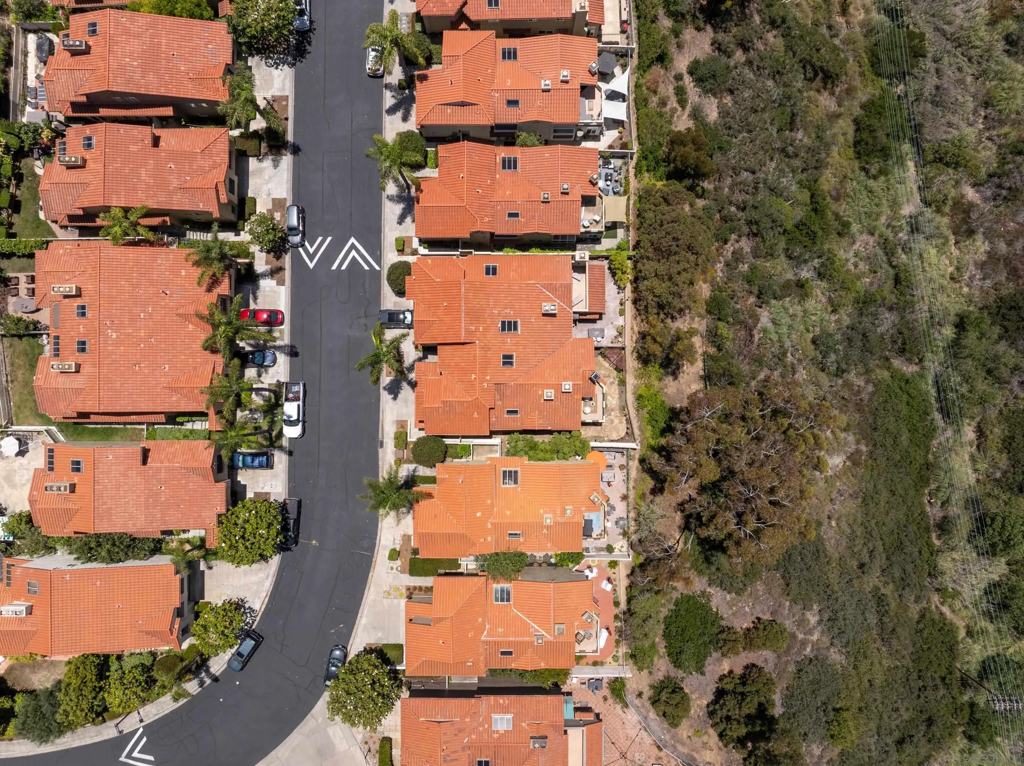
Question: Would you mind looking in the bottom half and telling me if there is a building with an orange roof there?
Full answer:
Yes, a building with an orange roof is visible in the bottom half.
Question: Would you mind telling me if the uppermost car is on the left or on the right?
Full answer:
The uppermost car is on the left side of the image.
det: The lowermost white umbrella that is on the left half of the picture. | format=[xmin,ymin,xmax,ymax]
[0,436,28,457]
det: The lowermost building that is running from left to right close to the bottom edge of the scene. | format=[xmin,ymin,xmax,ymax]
[400,674,603,766]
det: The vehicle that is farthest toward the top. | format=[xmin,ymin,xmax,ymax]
[293,0,314,34]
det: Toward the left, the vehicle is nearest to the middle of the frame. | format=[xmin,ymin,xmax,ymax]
[375,308,414,330]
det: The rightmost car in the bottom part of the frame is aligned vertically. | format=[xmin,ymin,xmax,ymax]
[323,639,348,686]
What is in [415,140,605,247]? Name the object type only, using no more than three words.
house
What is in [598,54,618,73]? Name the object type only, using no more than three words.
umbrella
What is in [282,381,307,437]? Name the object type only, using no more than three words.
truck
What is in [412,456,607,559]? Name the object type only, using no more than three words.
house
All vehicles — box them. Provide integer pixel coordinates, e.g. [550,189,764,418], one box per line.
[233,451,275,471]
[364,37,385,82]
[293,0,314,34]
[241,307,286,327]
[282,381,307,437]
[229,628,262,674]
[286,204,307,249]
[280,496,302,549]
[375,308,414,330]
[236,349,279,369]
[323,639,348,686]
